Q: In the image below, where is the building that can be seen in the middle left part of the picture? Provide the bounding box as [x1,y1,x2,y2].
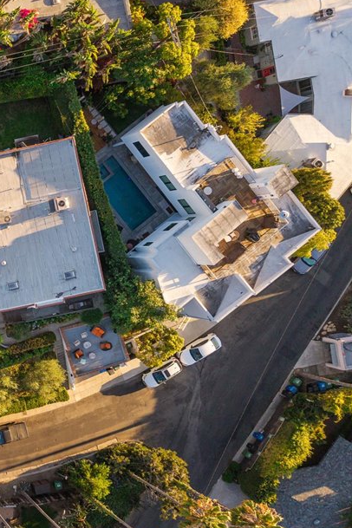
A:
[0,136,106,310]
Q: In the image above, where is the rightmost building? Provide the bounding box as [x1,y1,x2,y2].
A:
[310,332,352,373]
